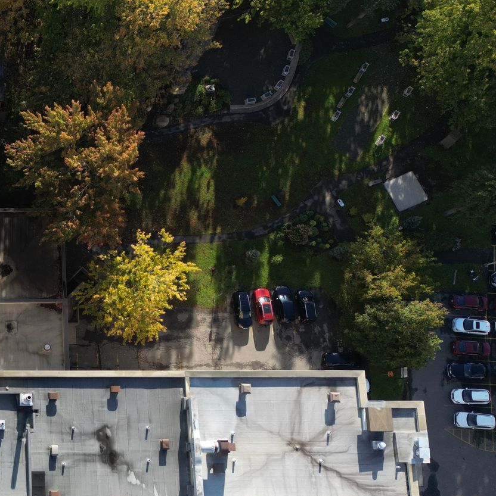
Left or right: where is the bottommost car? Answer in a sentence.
It is on the right.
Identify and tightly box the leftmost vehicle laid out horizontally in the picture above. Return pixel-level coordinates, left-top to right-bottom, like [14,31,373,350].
[318,351,361,369]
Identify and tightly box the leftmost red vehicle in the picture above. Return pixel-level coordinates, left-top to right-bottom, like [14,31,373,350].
[252,289,274,324]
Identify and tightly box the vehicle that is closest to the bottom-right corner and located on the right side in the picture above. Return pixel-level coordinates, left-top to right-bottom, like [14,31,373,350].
[452,410,496,430]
